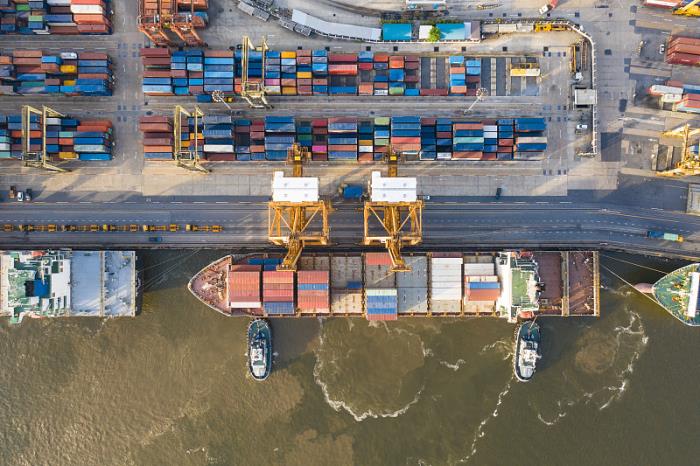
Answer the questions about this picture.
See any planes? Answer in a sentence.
No, I can see no plane in this picture.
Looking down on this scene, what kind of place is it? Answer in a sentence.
What you see here is a port.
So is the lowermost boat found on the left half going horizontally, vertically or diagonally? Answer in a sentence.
I'd say the lowermost boat found on the left half is aligned vertically in the picture.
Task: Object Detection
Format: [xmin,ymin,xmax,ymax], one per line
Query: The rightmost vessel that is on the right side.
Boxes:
[635,266,700,325]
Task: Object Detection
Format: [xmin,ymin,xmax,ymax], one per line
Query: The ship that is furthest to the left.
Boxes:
[0,249,145,325]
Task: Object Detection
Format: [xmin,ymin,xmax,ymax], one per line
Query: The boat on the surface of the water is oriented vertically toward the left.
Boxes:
[247,318,273,381]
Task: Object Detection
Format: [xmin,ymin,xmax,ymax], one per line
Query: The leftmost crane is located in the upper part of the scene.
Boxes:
[16,105,68,173]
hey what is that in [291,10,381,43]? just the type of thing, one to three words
shed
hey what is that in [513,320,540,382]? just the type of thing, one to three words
boat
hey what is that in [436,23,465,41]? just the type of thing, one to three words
building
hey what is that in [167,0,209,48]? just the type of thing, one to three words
container crane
